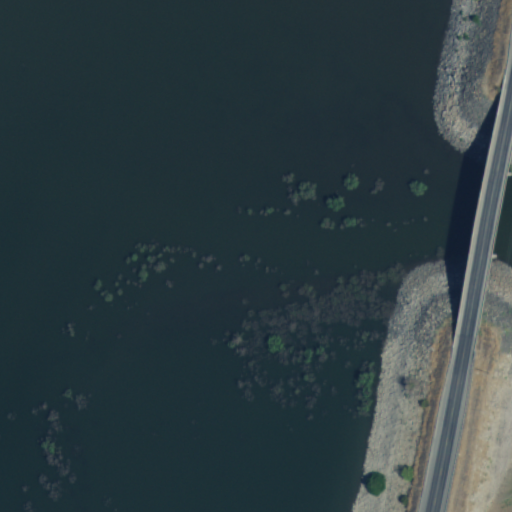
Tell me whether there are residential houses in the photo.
No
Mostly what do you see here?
water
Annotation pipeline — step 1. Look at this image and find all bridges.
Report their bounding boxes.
[452,90,512,348]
